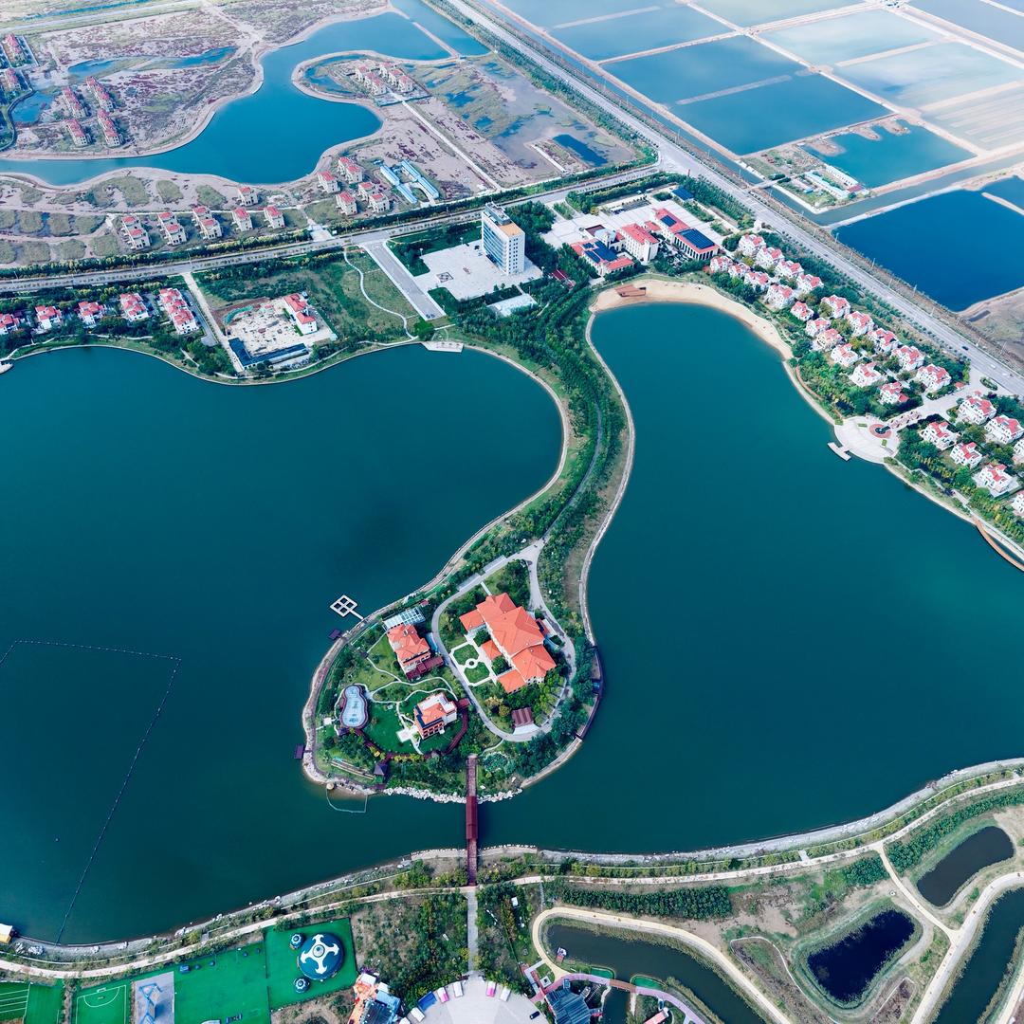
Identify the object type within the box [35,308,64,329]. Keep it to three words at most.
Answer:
house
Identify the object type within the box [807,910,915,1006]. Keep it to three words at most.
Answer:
pond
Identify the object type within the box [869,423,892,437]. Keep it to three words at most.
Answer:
fountain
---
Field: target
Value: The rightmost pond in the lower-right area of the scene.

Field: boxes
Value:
[918,826,1015,903]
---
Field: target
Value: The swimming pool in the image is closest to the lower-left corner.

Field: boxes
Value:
[340,683,369,728]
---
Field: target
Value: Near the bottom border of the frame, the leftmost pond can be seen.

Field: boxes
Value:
[549,925,767,1024]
